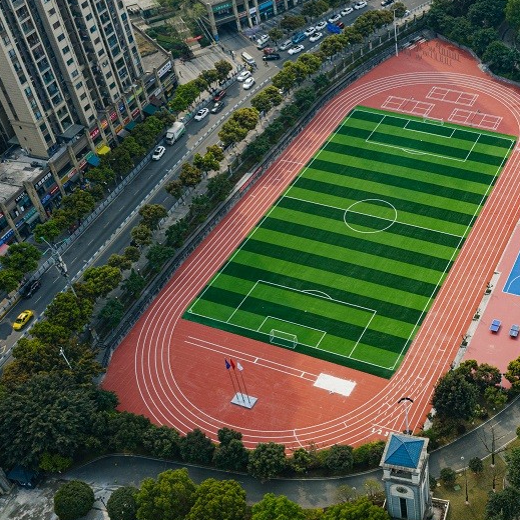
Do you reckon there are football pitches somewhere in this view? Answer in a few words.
Yes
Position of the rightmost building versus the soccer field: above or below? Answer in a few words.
below it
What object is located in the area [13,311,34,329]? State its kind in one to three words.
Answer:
car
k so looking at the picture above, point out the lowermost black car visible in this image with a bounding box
[22,278,42,297]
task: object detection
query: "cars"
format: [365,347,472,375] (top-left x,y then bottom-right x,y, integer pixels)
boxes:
[315,20,328,29]
[214,89,228,101]
[289,45,303,54]
[196,108,210,119]
[401,9,412,17]
[212,100,225,110]
[238,68,252,80]
[341,7,353,15]
[306,26,317,35]
[13,311,34,329]
[336,21,346,28]
[292,29,307,42]
[241,50,254,63]
[242,78,255,88]
[264,53,280,61]
[22,278,42,297]
[328,14,340,22]
[152,147,166,159]
[355,1,367,9]
[280,39,293,49]
[309,32,323,41]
